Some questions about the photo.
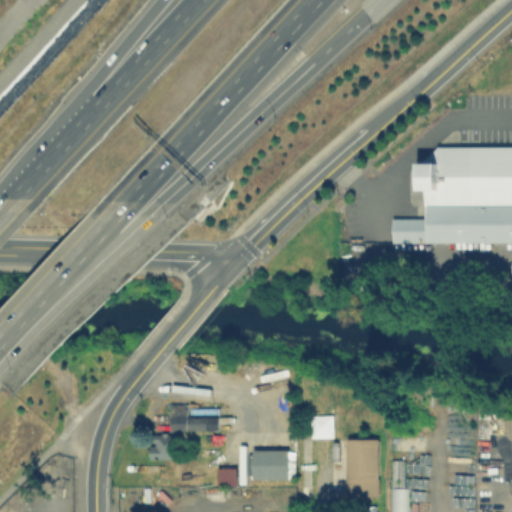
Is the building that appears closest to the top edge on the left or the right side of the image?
right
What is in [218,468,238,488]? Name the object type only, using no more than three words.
shed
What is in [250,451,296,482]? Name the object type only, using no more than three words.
barn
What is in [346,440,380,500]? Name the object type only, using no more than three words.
building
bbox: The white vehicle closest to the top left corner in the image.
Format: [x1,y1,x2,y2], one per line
[106,52,120,67]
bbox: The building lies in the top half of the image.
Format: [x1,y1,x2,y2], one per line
[392,148,512,244]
